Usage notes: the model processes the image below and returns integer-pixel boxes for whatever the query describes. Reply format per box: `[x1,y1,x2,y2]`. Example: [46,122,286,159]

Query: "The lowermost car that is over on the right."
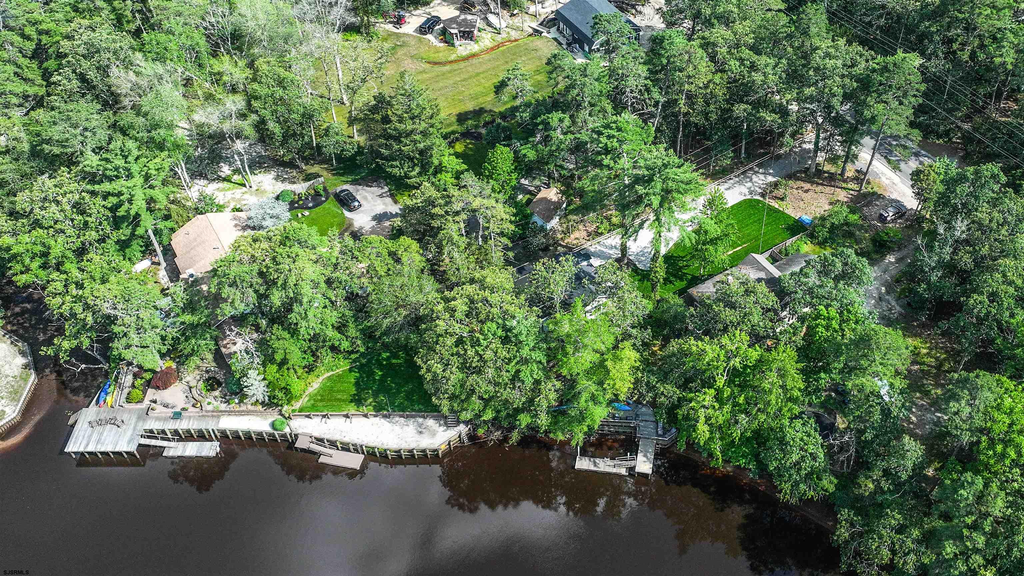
[880,204,908,223]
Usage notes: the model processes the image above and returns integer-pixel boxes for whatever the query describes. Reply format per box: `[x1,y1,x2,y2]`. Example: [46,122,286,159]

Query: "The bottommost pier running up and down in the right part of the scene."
[634,438,656,482]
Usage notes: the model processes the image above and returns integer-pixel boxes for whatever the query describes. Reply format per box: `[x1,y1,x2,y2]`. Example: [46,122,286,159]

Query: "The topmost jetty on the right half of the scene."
[636,409,678,449]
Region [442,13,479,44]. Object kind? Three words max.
building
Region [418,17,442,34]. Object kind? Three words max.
car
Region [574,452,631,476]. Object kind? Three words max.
pier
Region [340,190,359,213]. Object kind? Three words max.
car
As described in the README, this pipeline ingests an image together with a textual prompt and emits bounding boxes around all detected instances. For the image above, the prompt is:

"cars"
[418,17,442,34]
[340,190,359,213]
[880,204,908,223]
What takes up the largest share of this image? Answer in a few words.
trees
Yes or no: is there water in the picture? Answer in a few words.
Yes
